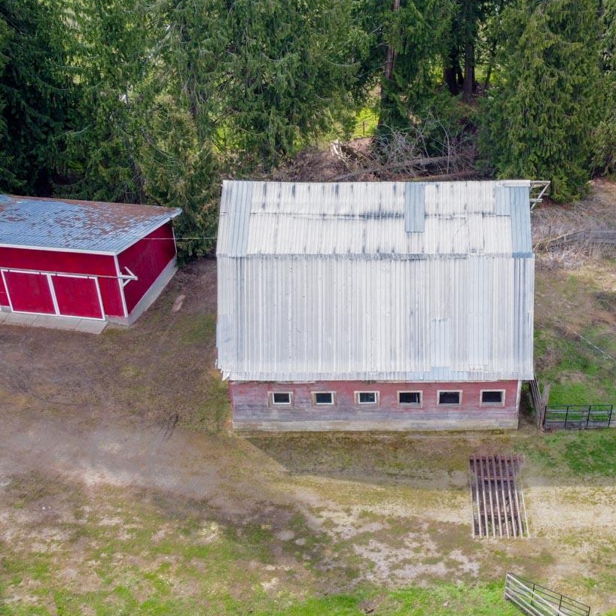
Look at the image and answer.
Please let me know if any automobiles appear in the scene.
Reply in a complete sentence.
No, no automobile can be seen from above.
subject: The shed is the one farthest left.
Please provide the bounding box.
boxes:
[0,199,185,326]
